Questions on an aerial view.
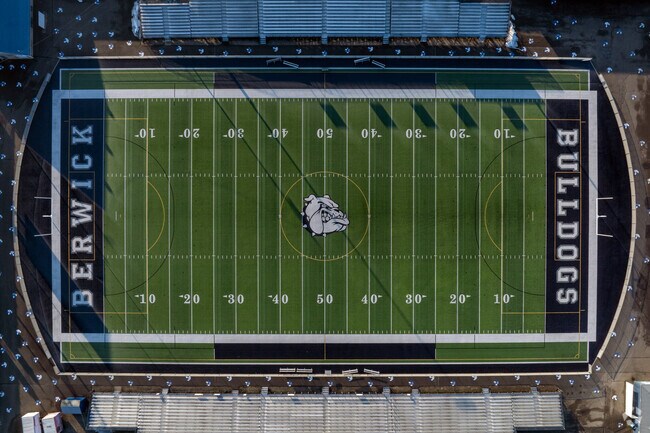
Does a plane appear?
No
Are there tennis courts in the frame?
No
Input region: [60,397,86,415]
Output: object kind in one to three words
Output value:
shed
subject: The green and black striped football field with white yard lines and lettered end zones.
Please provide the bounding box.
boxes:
[17,58,632,373]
